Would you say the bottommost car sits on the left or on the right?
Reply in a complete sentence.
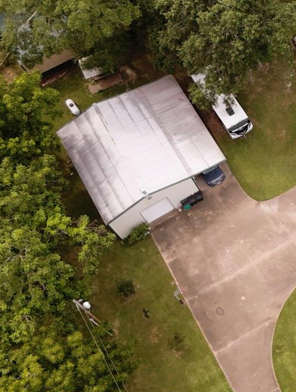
The bottommost car sits on the right side.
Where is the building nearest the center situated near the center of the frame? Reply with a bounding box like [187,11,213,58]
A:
[55,75,233,238]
